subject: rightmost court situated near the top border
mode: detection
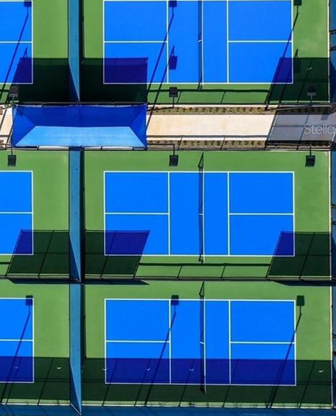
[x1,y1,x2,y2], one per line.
[81,0,328,102]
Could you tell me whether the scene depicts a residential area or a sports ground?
sports ground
